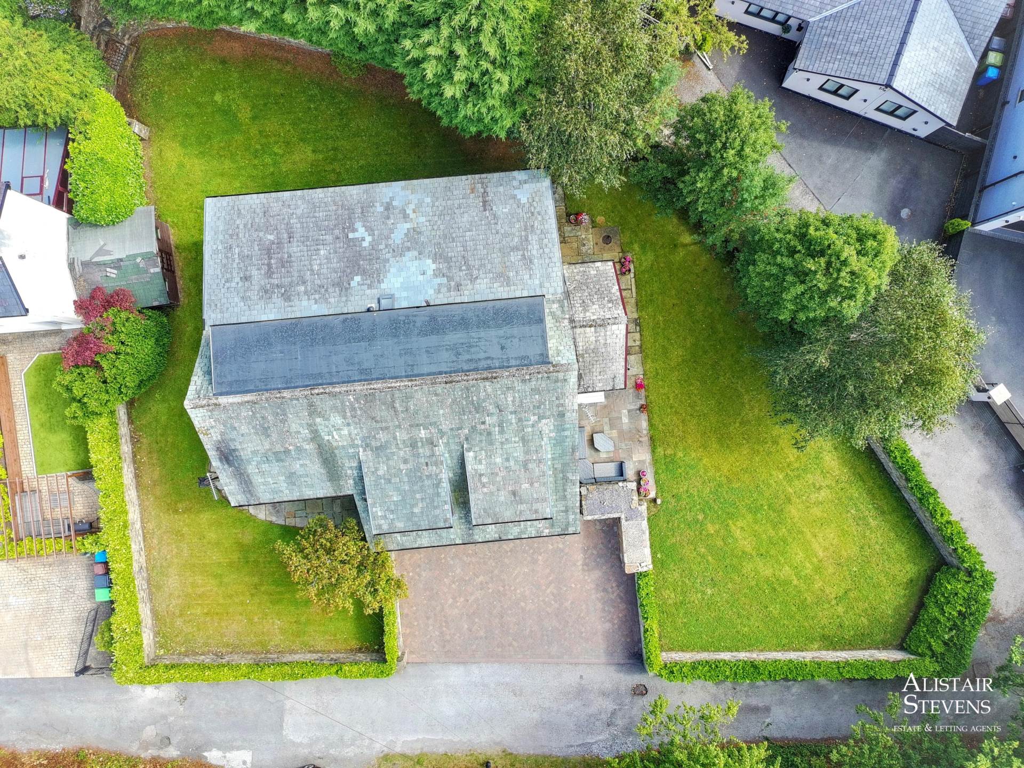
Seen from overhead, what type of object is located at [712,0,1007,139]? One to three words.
house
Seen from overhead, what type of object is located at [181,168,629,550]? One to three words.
house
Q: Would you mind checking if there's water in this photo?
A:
No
